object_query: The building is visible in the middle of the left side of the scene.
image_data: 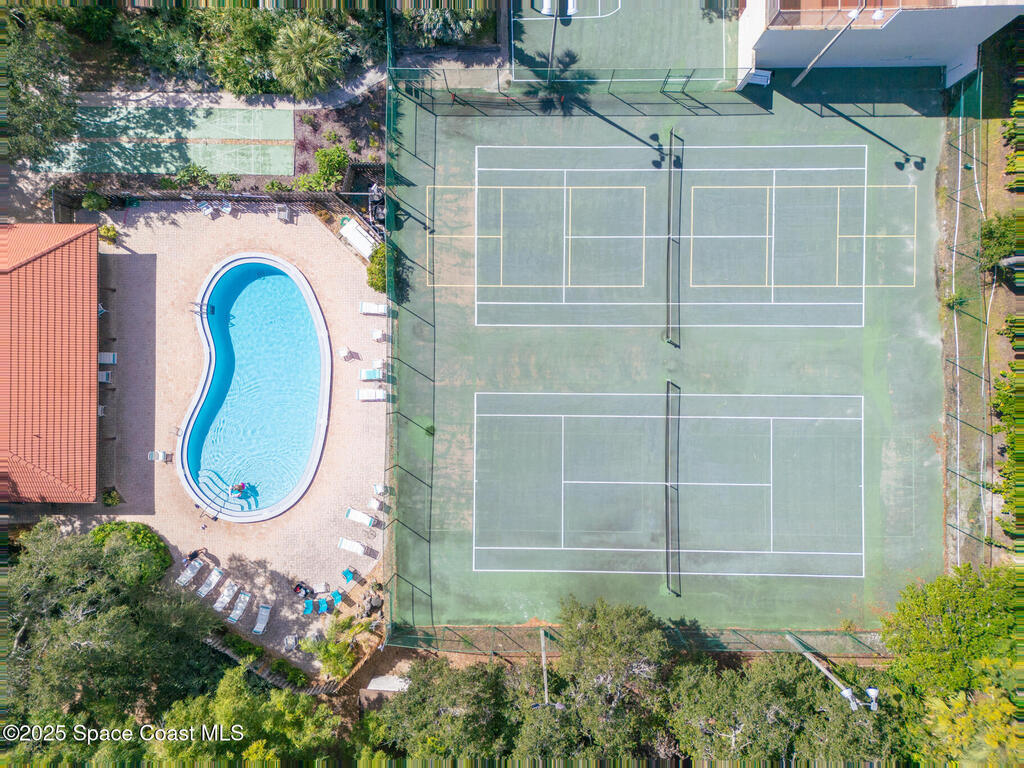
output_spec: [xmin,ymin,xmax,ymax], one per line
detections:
[0,221,117,505]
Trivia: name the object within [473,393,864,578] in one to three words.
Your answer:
tennis court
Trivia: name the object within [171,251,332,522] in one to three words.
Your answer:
swimming pool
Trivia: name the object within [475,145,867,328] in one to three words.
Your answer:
tennis court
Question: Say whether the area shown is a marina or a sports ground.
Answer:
sports ground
